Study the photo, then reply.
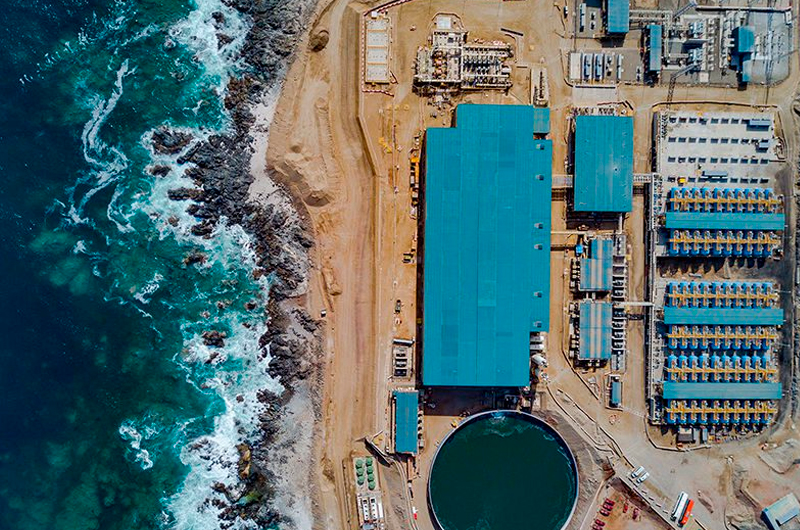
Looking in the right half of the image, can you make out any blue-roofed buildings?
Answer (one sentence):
Yes, you'll find a blue-roofed building in the right half of the image.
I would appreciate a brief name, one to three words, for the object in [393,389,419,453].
shed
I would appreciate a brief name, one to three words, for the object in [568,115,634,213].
building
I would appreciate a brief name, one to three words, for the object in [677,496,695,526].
vehicle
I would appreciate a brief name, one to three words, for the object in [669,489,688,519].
vehicle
